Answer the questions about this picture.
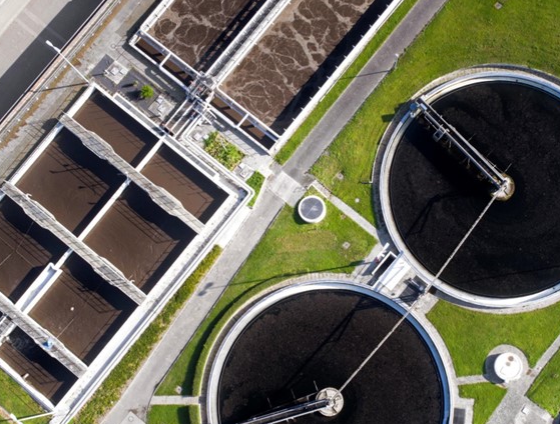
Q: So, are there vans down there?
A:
No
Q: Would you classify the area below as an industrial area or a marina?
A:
industrial area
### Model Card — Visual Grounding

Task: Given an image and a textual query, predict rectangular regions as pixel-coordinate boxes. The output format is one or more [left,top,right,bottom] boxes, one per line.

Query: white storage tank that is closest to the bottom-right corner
[493,352,523,381]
